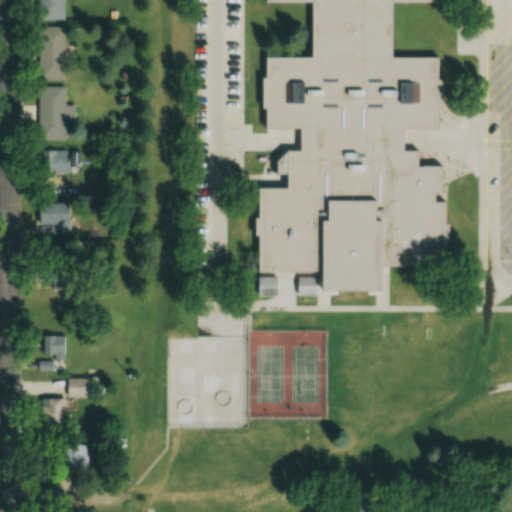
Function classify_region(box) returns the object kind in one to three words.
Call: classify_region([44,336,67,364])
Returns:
house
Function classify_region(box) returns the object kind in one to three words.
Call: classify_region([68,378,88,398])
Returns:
building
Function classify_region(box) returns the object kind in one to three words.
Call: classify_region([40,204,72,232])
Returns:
house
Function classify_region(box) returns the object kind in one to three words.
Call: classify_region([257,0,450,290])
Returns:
building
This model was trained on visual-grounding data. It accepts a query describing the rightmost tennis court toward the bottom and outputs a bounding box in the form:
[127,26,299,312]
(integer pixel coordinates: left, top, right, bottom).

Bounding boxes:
[248,331,328,418]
